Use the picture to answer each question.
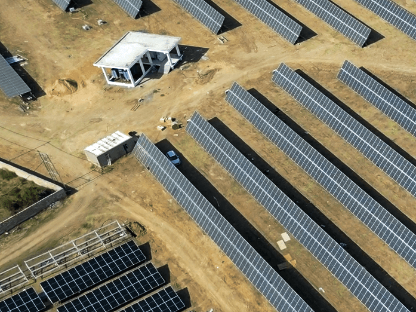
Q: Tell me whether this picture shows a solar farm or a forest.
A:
solar farm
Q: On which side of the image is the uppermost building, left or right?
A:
left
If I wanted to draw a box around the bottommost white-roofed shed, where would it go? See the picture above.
[84,130,134,168]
